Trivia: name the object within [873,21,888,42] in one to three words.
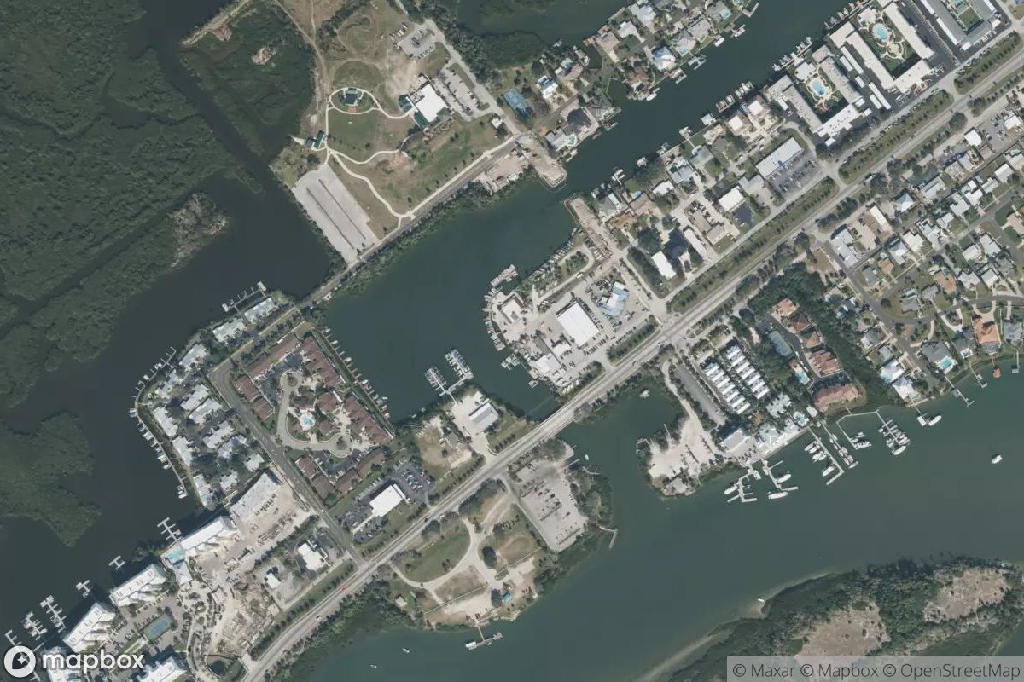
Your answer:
swimming pool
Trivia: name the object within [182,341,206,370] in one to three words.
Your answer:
house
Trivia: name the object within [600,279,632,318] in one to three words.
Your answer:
building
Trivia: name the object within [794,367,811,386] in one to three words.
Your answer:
swimming pool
